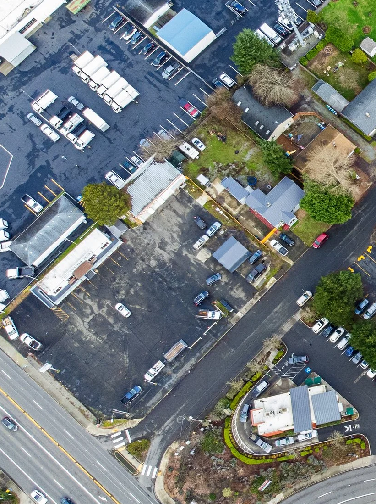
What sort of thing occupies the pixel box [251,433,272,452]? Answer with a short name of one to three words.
vehicle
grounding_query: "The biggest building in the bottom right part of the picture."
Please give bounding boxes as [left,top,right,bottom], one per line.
[251,385,346,438]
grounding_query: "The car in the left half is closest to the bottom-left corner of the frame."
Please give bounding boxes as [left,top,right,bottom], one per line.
[30,488,48,504]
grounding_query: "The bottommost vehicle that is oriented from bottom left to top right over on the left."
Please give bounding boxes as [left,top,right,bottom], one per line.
[121,385,142,407]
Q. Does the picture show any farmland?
No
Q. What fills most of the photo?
paved ground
